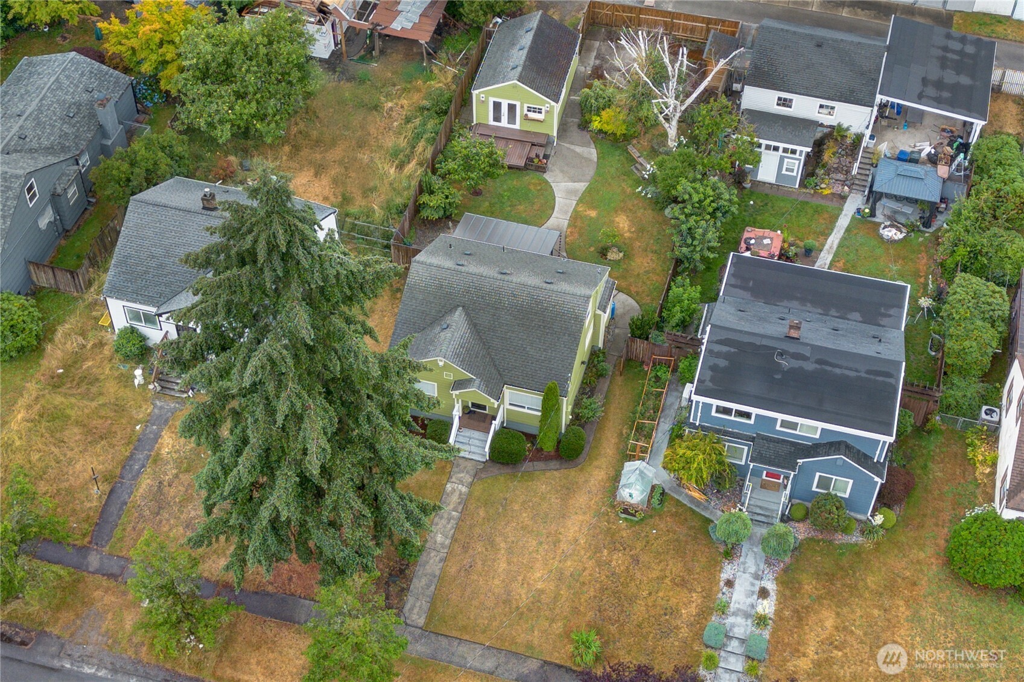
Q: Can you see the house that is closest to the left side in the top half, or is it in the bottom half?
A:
top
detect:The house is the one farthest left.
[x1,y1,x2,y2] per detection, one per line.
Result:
[0,47,153,299]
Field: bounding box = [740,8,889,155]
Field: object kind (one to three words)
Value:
building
